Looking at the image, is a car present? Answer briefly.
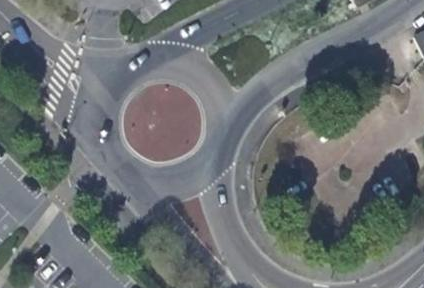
Yes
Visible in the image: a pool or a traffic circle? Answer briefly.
traffic circle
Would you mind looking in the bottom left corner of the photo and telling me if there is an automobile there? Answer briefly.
Yes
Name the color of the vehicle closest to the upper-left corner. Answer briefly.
blue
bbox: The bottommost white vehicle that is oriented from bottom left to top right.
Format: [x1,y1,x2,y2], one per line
[39,262,58,282]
